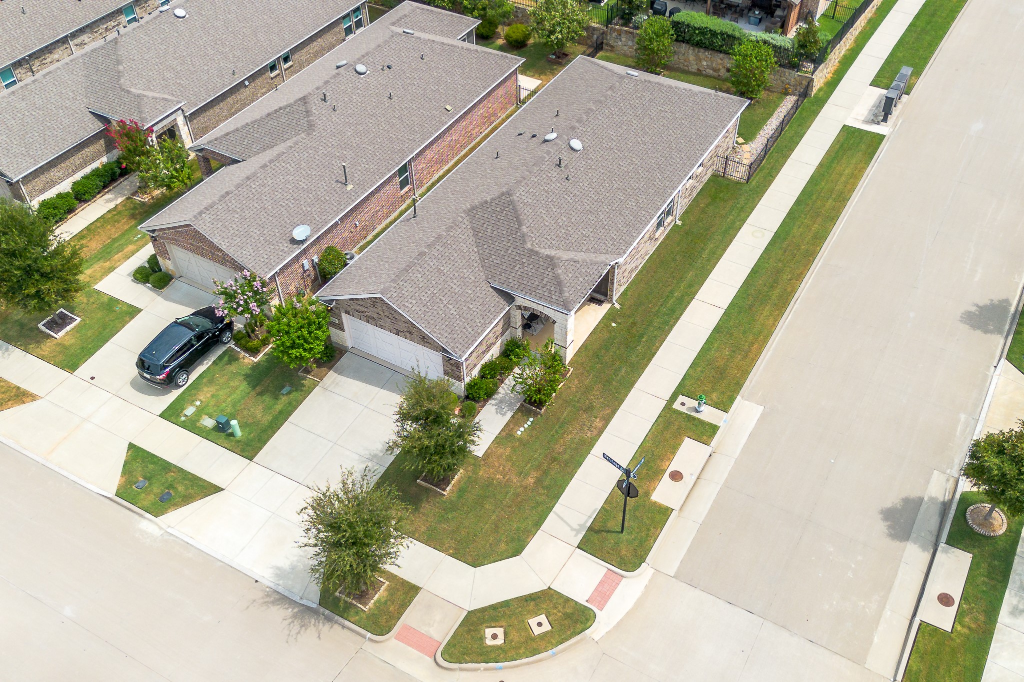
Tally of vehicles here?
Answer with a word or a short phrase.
one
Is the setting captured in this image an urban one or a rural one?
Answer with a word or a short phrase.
urban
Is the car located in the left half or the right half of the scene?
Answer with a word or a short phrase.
left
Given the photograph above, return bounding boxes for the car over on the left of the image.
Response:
[129,304,235,389]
